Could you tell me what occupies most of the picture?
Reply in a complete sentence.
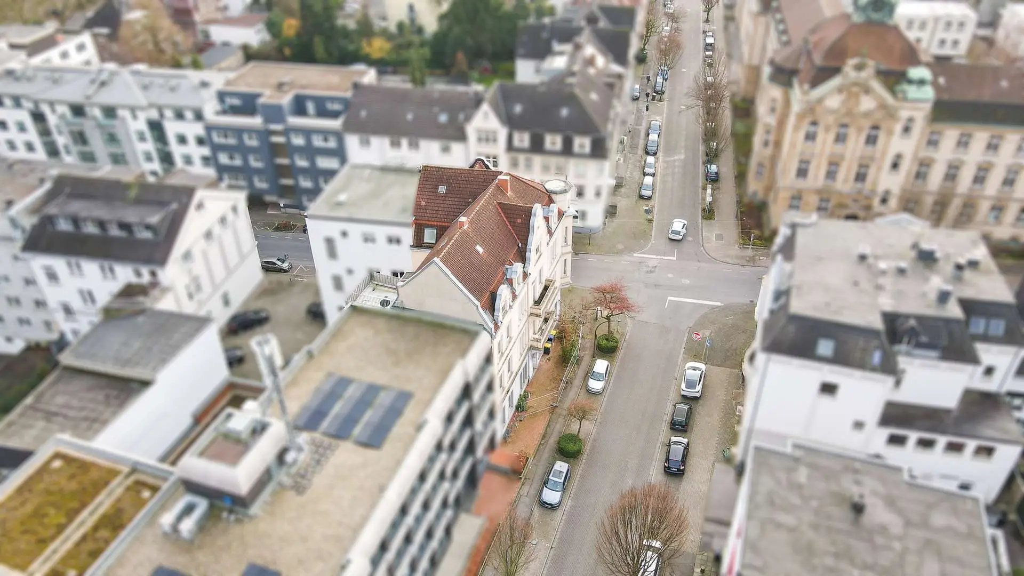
Most of the picture is covered by buildings.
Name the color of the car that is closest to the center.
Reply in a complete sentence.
In this view, the car that is closest to the center is white.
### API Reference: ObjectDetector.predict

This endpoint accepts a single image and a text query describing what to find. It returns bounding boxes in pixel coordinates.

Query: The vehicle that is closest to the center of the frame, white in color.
[586,361,611,394]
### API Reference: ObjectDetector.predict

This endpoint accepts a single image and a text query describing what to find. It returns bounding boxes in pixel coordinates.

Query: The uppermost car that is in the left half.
[291,219,311,234]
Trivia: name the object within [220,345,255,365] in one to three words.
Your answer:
car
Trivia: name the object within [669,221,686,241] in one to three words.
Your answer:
car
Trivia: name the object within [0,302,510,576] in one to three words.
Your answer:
building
